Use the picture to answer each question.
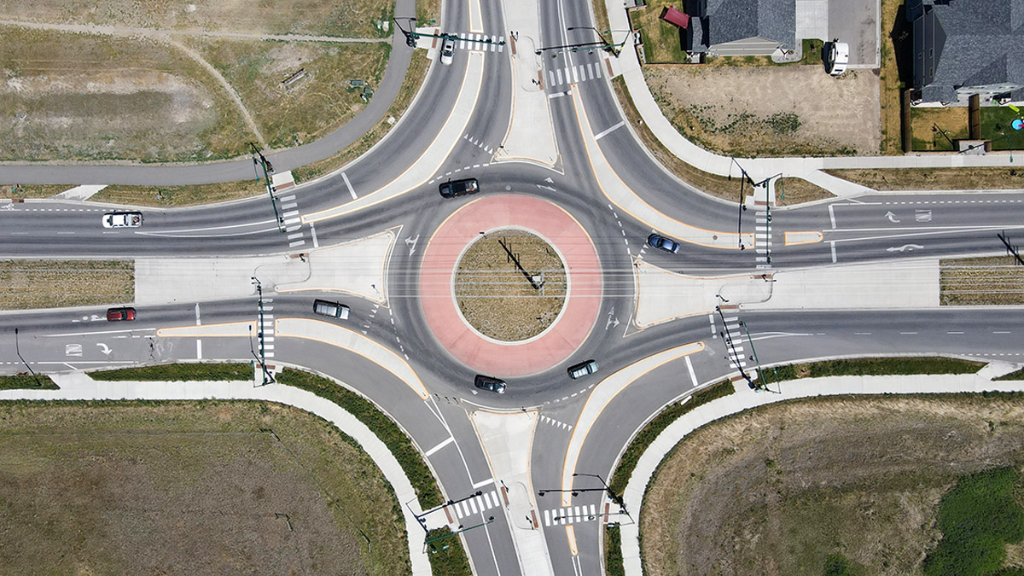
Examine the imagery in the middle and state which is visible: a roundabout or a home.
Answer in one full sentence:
Looking in the middle, you will find a roundabout.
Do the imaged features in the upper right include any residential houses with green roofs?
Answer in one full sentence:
No, the scene shows no residential house with a green roof in the upper right.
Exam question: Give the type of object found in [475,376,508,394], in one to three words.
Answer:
car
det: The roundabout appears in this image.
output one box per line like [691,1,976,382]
[386,160,637,411]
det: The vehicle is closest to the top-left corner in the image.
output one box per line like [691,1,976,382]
[102,212,144,228]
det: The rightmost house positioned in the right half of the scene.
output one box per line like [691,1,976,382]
[901,0,1024,106]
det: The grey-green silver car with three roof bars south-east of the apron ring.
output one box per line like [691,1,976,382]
[567,360,600,380]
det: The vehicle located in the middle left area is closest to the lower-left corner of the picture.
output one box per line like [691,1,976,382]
[105,308,138,323]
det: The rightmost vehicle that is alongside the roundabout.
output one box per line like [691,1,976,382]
[647,235,681,254]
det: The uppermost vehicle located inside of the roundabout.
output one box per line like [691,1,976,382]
[440,178,480,198]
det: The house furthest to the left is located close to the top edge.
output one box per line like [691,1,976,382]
[682,0,792,65]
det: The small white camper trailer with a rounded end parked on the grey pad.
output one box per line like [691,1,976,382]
[826,41,850,78]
